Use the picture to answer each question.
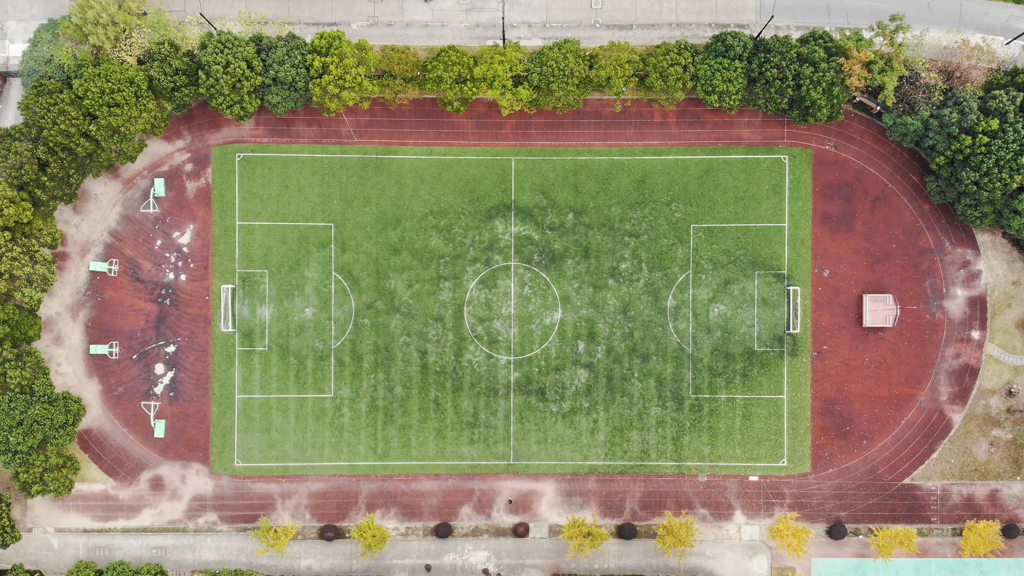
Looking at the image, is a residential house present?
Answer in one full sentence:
No, the picture doesn't show any residential house.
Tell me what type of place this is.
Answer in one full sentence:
The area seen from above is a sports ground.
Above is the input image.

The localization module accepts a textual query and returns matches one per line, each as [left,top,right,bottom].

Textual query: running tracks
[27,96,1024,524]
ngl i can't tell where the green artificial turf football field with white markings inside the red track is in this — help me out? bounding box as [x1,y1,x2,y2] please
[211,144,812,475]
